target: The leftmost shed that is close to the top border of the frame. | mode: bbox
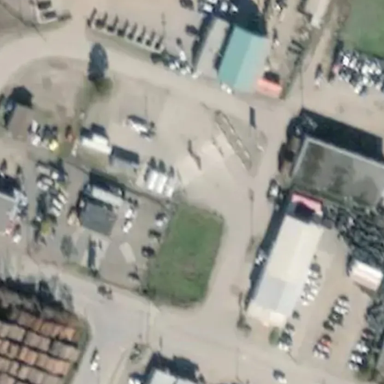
[191,17,231,80]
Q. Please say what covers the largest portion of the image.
paved ground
